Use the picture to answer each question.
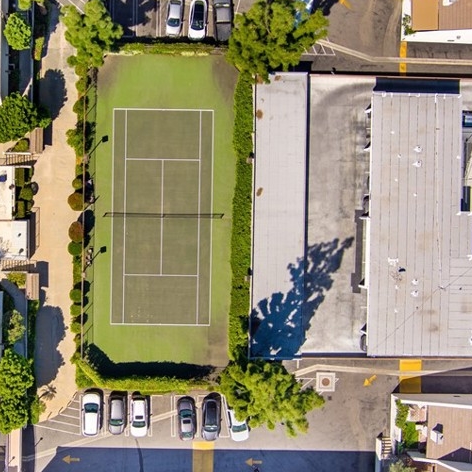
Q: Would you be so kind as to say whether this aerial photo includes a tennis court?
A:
Yes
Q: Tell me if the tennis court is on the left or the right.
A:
left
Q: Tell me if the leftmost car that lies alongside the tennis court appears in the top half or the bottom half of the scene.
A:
bottom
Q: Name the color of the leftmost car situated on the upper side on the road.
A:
white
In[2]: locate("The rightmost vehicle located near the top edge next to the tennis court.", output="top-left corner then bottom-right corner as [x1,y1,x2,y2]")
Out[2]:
[211,0,233,42]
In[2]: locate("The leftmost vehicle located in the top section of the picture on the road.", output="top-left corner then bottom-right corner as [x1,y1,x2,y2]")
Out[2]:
[165,0,185,38]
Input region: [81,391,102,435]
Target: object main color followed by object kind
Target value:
white car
